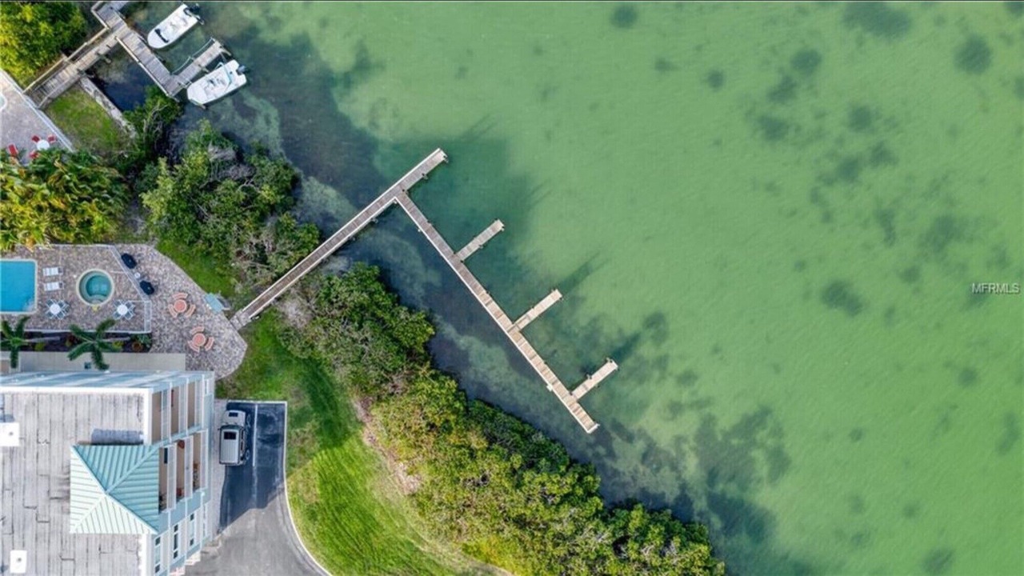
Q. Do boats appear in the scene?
Yes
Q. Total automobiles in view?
1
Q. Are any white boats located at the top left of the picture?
Yes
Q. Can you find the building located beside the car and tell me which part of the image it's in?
bottom left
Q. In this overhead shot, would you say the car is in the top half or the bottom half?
bottom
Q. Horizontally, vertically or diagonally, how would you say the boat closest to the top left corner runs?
diagonally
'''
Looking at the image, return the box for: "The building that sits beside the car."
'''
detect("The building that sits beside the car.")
[0,371,219,576]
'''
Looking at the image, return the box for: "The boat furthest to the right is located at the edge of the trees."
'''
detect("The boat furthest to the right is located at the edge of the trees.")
[186,59,249,105]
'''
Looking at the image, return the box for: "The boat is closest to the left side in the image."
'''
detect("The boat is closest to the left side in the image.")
[145,1,200,45]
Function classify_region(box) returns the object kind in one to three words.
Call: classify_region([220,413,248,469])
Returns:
car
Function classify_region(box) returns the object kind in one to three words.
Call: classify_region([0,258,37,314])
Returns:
swimming pool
